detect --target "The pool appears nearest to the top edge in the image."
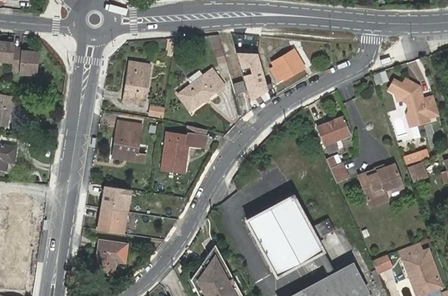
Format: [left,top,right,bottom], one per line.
[395,117,408,135]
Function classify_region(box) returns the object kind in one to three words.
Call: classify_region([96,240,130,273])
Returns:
house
